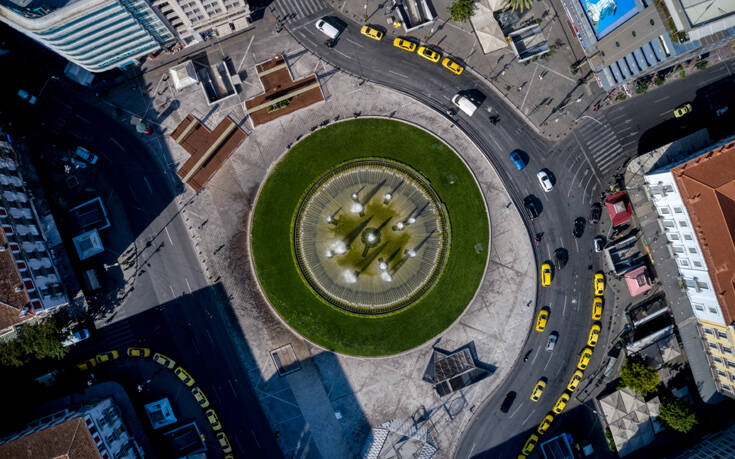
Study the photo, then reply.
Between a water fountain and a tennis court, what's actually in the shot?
water fountain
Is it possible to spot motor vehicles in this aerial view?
Yes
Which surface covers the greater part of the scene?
paved ground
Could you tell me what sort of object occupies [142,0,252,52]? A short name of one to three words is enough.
building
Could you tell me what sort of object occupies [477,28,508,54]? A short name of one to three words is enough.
umbrella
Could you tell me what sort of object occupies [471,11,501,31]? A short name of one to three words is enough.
umbrella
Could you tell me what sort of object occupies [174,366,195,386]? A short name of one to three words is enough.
car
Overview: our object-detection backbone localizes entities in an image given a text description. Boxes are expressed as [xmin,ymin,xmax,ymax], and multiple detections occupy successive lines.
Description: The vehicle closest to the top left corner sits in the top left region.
[15,88,37,104]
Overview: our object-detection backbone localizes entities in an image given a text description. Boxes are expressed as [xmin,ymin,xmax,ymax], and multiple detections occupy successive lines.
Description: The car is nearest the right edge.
[712,104,734,119]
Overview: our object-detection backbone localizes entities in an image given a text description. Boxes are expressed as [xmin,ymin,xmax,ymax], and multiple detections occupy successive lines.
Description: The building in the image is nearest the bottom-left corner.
[0,394,147,459]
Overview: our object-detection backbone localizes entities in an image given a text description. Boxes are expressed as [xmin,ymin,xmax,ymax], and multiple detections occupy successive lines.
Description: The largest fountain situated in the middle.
[290,157,450,317]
